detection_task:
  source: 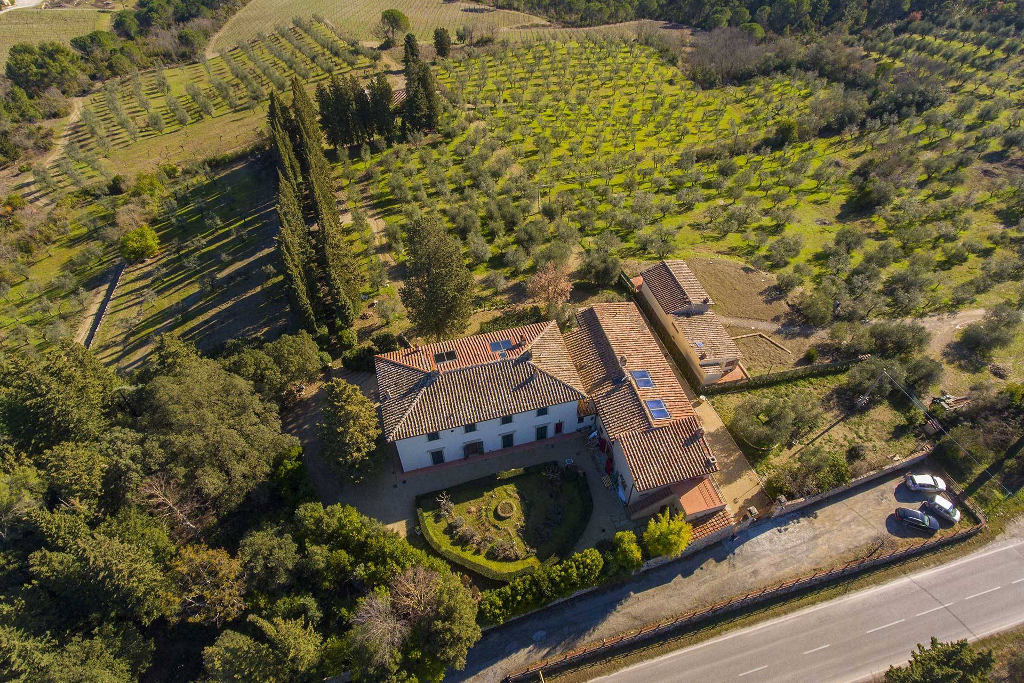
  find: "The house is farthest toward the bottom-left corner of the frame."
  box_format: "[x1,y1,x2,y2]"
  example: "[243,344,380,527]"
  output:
[373,318,589,472]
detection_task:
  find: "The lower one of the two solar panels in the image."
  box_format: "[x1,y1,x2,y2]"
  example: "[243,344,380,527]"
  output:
[647,398,671,419]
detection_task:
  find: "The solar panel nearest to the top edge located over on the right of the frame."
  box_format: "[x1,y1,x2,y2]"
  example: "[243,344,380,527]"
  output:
[632,370,656,388]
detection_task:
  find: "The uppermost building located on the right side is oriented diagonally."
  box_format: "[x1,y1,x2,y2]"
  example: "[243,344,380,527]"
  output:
[634,257,758,394]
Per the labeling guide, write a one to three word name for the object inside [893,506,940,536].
car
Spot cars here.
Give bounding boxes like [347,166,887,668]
[921,493,964,525]
[903,475,947,496]
[893,506,940,536]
